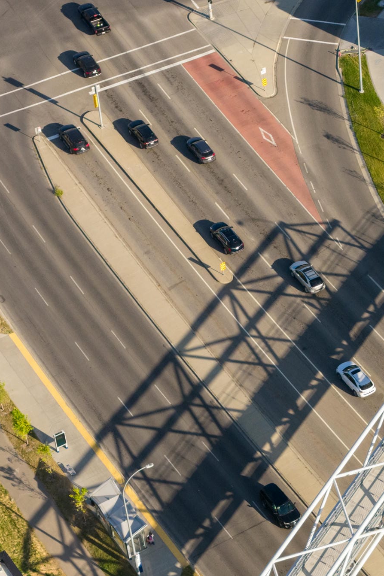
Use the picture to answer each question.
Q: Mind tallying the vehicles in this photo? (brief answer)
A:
nine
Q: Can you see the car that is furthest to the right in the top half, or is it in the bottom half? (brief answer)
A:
bottom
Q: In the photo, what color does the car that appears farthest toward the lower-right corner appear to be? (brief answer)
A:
black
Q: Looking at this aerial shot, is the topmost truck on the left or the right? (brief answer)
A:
left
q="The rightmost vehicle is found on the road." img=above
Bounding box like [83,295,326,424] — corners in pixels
[336,361,377,401]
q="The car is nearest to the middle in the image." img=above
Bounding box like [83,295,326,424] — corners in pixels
[209,221,244,258]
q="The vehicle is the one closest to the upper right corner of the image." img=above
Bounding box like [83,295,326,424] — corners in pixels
[186,136,218,168]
